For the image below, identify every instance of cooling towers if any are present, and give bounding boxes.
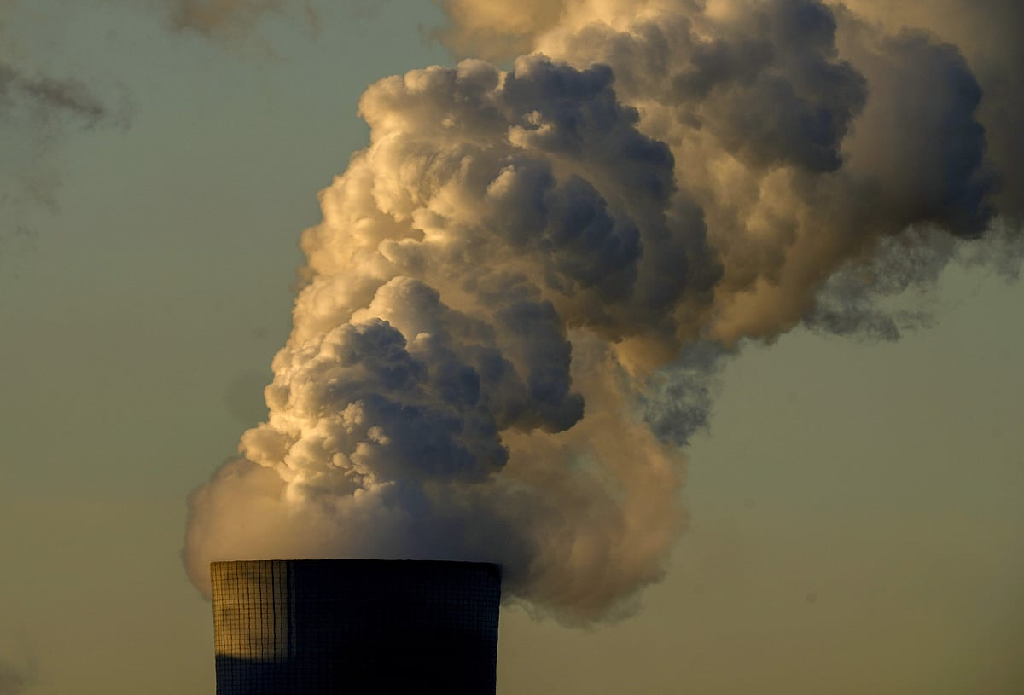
[210,555,500,695]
